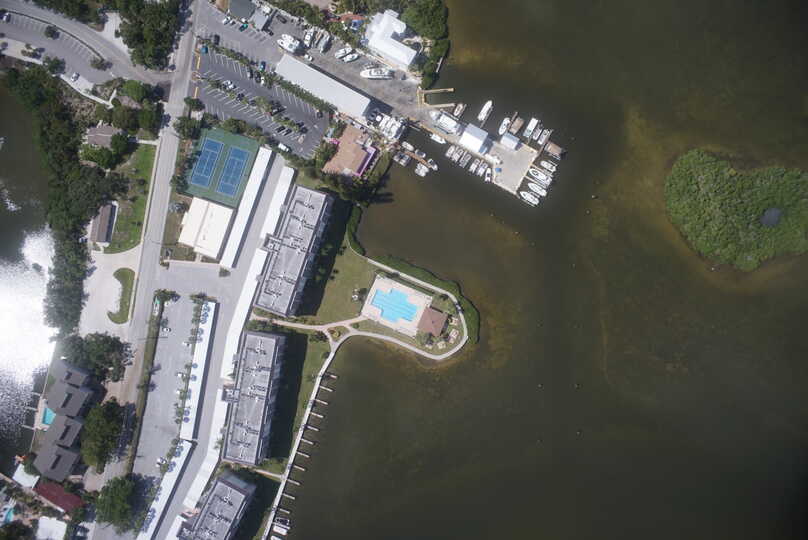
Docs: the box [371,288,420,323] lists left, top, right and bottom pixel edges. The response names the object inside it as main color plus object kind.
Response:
blue swimming pool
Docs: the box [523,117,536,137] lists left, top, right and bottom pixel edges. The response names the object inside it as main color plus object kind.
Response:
white boat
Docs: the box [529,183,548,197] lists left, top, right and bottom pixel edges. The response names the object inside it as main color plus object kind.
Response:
white boat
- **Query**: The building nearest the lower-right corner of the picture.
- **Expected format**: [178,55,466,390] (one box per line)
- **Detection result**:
[418,308,447,336]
